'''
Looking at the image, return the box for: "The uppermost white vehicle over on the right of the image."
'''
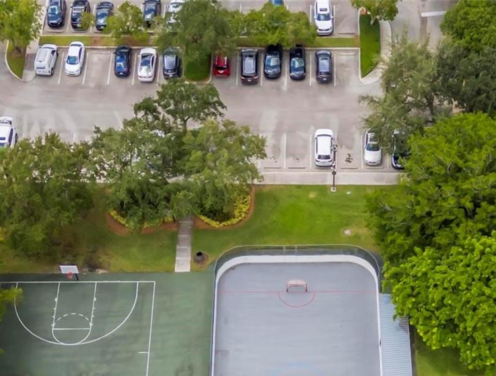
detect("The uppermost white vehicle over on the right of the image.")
[314,1,333,35]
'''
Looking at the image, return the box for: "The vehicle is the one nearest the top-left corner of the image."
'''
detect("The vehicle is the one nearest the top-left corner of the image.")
[44,0,67,28]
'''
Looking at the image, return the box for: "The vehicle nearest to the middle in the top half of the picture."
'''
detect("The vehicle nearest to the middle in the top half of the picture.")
[313,131,334,168]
